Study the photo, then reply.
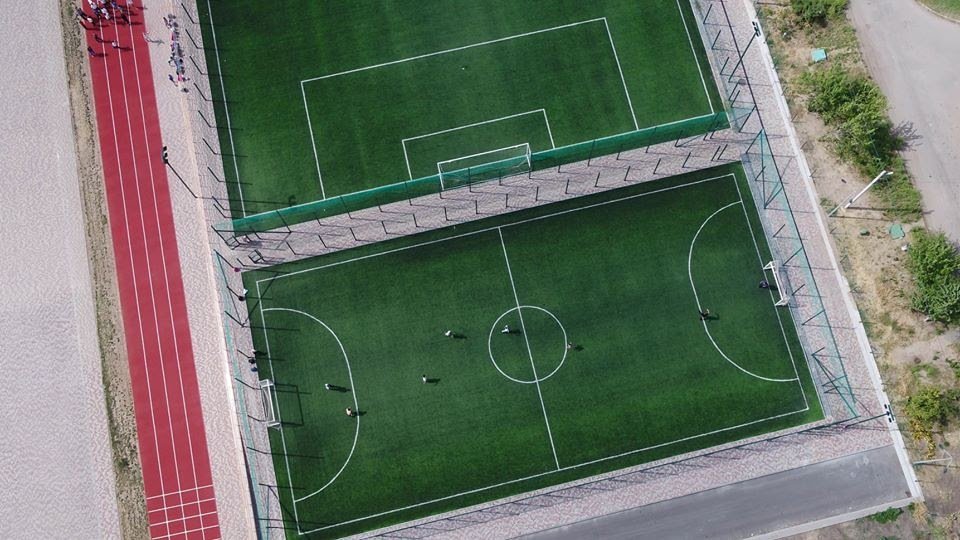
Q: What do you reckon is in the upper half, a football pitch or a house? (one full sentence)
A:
The feature located in the upper half is a football pitch.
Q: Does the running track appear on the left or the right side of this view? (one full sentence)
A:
You can find the running track on the left side of the picture.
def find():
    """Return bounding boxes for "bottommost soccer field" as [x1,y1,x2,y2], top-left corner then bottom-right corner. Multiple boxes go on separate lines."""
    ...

[241,160,827,540]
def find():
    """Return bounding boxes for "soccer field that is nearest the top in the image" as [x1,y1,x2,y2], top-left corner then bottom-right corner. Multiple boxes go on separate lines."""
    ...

[194,0,731,237]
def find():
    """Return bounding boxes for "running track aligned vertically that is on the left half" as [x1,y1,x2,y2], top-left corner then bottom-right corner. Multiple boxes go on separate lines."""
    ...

[79,0,222,540]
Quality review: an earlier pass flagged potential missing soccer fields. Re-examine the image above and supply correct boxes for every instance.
[194,0,731,237]
[241,160,827,540]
